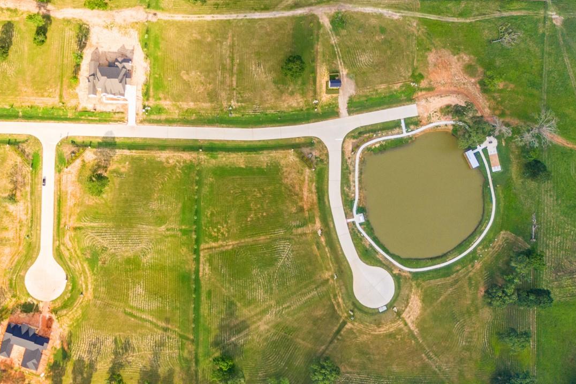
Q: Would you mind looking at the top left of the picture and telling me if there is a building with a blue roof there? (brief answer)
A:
No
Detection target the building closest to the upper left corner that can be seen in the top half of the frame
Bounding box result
[88,57,132,98]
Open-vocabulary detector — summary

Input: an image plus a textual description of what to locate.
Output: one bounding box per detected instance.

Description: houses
[88,57,132,98]
[0,321,54,373]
